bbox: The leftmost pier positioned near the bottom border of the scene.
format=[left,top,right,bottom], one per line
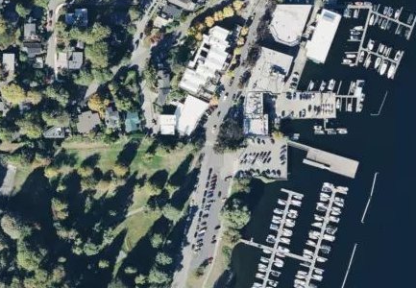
[239,188,304,288]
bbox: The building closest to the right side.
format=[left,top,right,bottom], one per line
[306,9,341,66]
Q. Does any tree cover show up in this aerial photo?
Yes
